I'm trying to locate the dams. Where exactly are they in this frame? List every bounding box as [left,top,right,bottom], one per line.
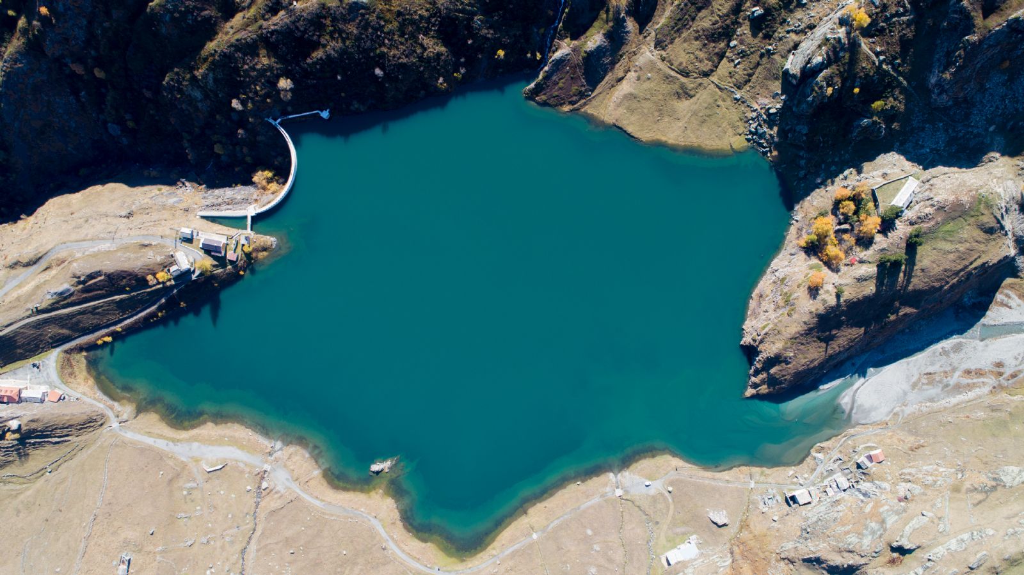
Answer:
[254,120,300,216]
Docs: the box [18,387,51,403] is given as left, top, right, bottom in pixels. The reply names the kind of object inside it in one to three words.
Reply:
house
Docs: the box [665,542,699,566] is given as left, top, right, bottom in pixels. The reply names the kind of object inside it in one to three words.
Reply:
building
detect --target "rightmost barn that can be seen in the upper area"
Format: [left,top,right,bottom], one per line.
[887,173,917,209]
